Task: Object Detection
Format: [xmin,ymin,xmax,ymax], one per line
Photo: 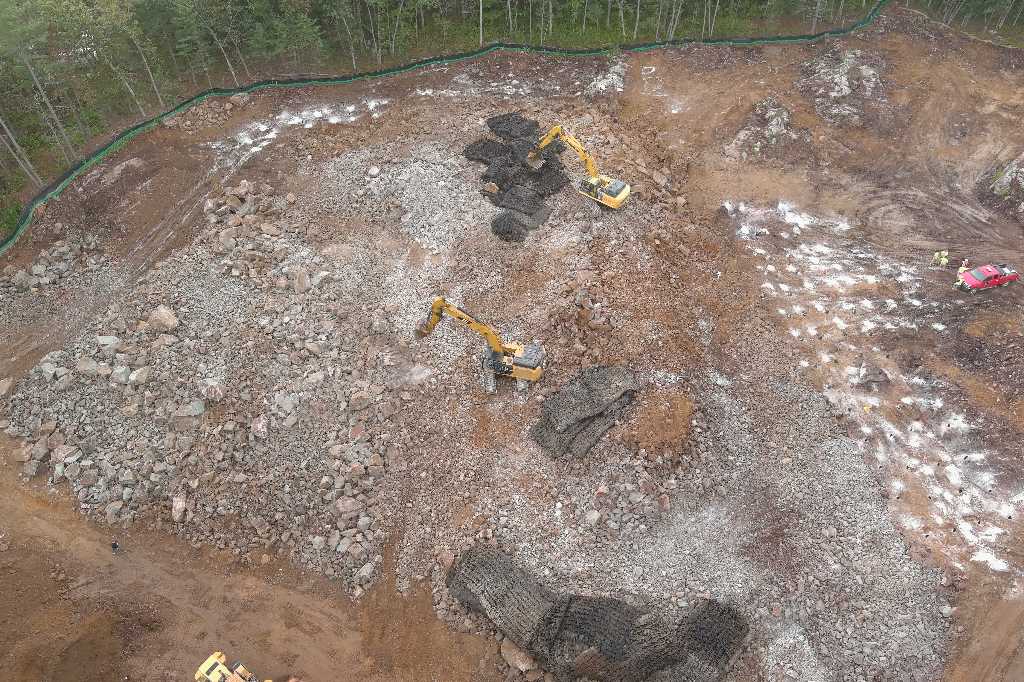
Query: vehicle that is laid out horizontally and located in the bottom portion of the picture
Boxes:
[195,651,265,682]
